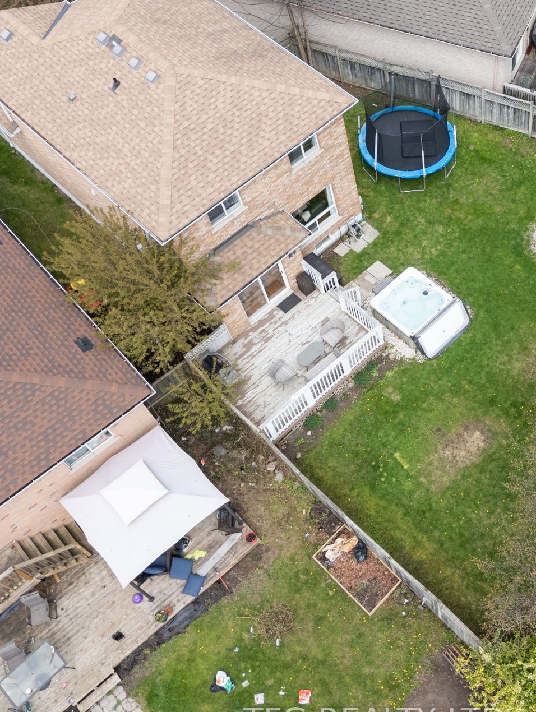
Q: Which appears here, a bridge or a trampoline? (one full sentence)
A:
This aerial view contains a trampoline.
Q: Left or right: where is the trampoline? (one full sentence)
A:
It is on the right.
